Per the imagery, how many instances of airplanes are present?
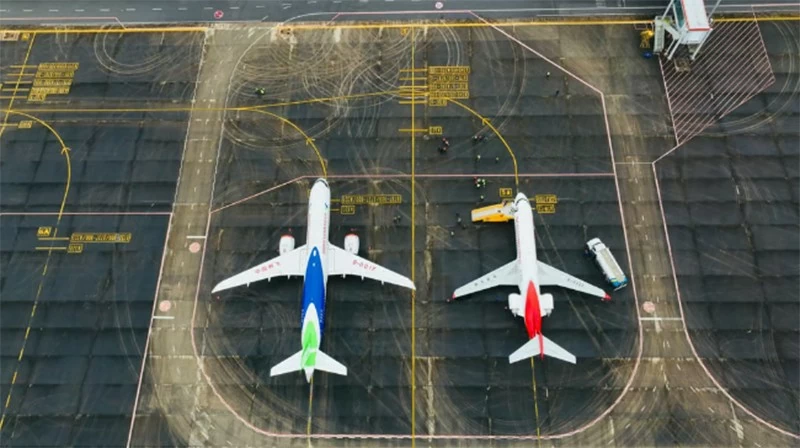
2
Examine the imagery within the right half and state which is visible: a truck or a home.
truck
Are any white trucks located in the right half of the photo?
Yes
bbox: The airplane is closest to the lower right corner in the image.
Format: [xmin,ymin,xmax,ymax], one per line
[452,193,613,364]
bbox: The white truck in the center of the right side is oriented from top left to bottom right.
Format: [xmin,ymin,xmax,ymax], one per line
[584,235,627,290]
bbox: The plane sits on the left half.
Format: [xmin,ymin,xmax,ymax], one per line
[211,179,416,385]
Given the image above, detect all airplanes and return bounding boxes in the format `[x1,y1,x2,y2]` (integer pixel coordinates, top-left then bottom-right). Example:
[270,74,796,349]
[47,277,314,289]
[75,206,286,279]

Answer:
[452,193,613,364]
[211,179,416,385]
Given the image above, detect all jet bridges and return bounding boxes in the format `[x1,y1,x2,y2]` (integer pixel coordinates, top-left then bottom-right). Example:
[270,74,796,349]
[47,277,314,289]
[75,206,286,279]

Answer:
[648,0,723,59]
